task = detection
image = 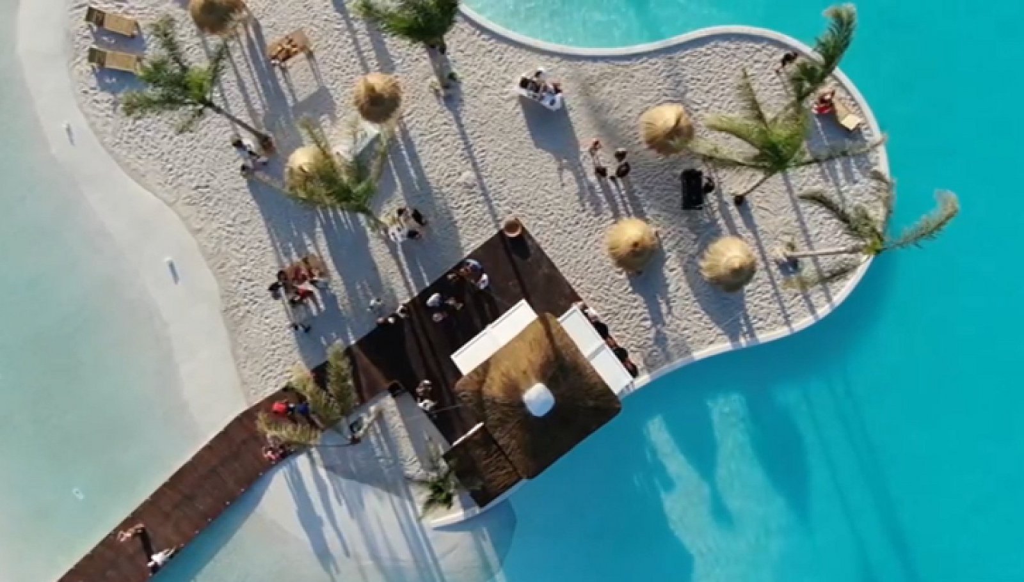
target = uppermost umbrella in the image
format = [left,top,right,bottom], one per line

[192,0,251,44]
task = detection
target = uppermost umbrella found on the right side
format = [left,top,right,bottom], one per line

[635,104,687,155]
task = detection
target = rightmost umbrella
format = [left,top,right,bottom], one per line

[693,238,751,295]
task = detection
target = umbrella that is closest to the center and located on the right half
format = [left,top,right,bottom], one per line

[604,220,656,274]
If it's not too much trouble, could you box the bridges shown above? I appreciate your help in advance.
[61,387,300,582]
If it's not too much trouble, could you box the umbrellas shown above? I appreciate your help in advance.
[604,220,656,274]
[192,0,251,44]
[635,104,687,155]
[353,74,404,125]
[693,238,751,295]
[287,145,334,195]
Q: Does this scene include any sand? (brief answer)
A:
Yes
